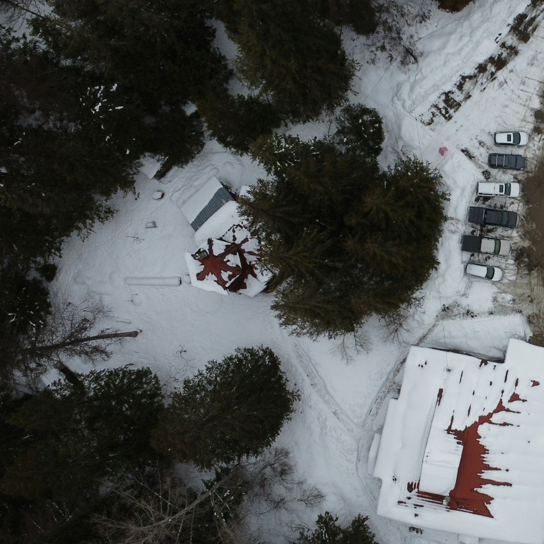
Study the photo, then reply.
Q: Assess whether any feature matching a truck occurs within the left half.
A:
No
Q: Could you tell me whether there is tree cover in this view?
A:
Yes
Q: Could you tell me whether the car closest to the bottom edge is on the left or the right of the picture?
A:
right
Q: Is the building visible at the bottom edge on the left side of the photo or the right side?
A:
right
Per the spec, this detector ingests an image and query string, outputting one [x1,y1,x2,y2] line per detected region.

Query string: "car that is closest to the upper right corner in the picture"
[494,130,531,148]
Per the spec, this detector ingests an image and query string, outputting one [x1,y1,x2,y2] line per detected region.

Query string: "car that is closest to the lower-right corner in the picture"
[465,262,506,282]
